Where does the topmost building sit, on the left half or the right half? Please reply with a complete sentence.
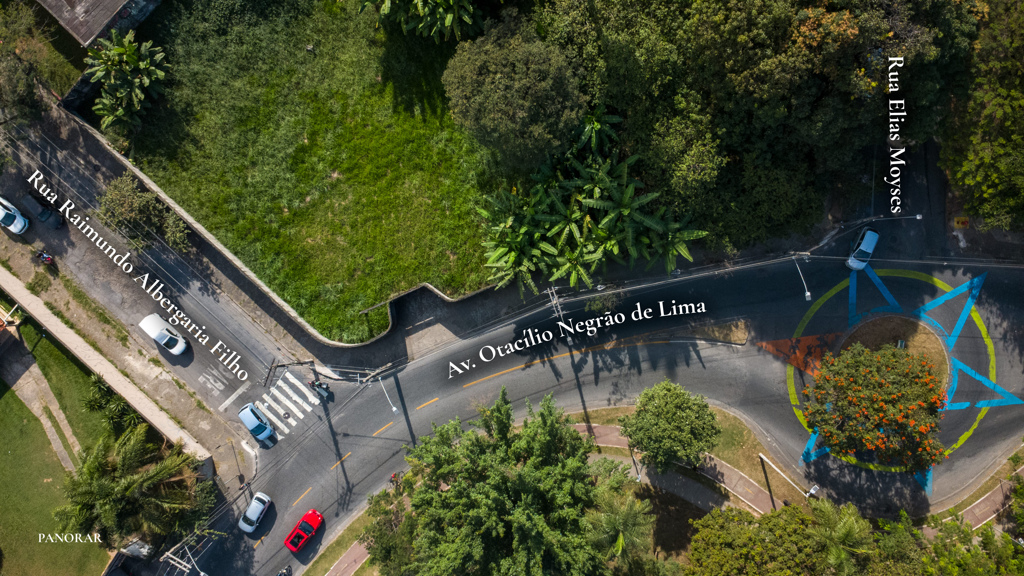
The topmost building appears in the left half of the scene.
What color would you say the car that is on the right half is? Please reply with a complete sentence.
From above, the car that is on the right half appears blue.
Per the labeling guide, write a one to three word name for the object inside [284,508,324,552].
car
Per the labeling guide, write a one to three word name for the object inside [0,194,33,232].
car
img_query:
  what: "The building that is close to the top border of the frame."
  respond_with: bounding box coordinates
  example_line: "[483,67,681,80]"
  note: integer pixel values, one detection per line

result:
[35,0,166,61]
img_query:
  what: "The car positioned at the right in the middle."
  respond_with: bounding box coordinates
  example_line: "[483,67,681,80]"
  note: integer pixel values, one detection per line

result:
[847,227,879,271]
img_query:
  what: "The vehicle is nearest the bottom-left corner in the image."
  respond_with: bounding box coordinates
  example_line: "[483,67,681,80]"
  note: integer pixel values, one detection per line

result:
[239,490,273,534]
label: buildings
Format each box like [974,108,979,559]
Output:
[35,0,166,61]
[0,302,23,346]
